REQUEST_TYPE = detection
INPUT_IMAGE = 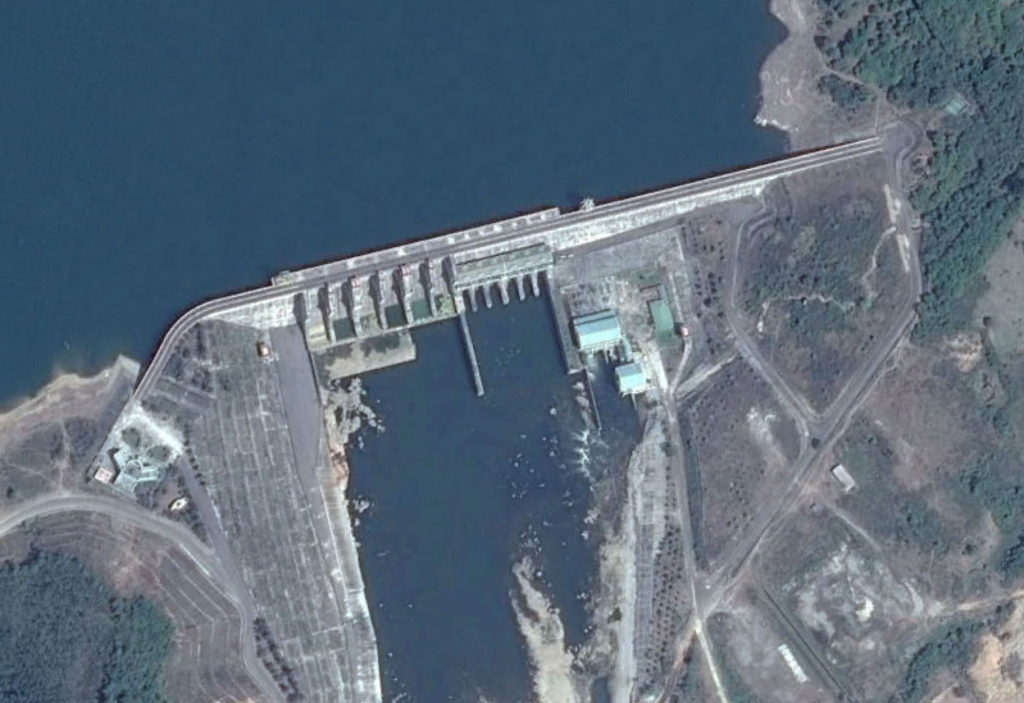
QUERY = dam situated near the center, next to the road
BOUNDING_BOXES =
[131,137,882,444]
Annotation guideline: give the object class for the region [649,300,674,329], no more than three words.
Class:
shed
